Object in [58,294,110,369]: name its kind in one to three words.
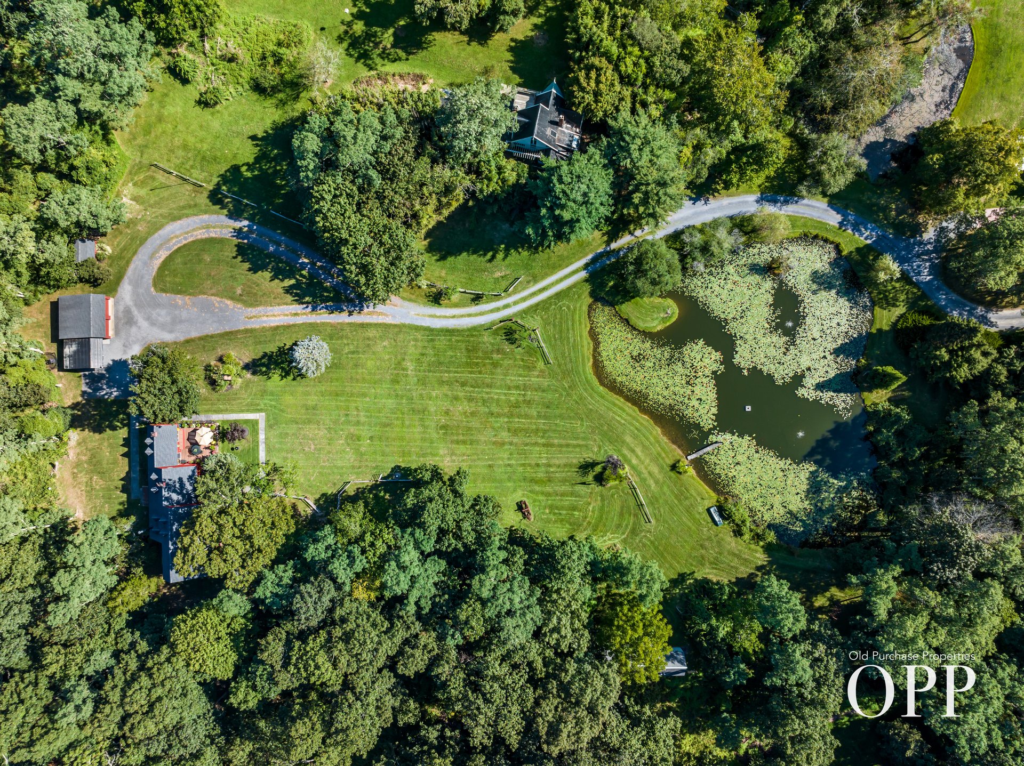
building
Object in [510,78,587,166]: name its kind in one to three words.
house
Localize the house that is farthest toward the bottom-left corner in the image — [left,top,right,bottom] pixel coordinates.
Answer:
[140,423,213,587]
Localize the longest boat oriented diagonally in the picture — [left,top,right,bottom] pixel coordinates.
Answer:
[706,505,723,525]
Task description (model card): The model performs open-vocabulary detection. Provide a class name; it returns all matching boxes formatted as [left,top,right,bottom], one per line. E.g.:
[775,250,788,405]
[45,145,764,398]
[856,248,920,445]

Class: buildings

[58,294,110,369]
[657,648,688,676]
[74,239,99,263]
[510,78,587,166]
[140,423,213,587]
